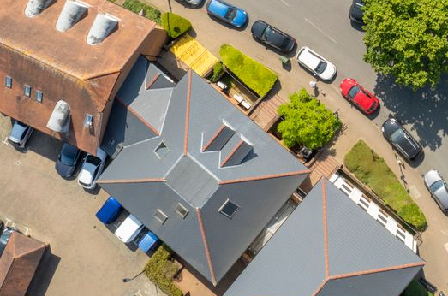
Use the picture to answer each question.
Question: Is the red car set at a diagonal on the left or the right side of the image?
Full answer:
It is on the right.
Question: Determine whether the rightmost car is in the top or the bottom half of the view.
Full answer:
Seen from above, the rightmost car lies in the bottom half of the view.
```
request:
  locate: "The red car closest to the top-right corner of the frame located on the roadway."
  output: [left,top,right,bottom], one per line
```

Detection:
[339,77,382,116]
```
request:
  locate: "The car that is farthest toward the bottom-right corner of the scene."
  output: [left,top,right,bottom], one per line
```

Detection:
[422,168,448,218]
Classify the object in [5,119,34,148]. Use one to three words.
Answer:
car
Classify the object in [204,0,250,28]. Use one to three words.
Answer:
car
